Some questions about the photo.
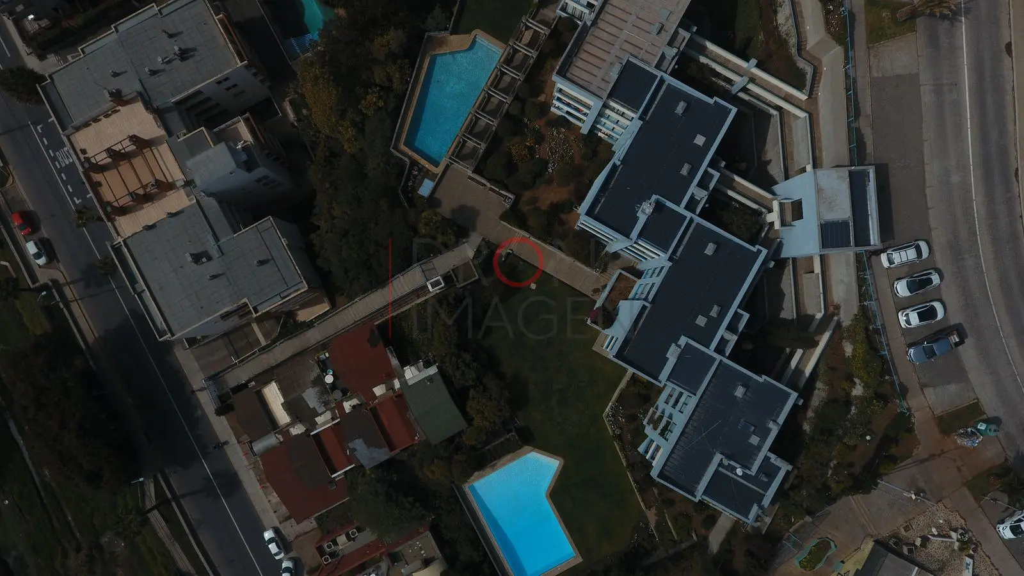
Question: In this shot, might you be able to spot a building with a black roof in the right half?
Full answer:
Yes, the scene does show a building with a black roof in the right half.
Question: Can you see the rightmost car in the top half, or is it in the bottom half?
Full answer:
It is in the bottom half that the rightmost car appears.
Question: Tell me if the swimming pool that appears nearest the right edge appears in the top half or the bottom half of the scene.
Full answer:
The swimming pool that appears nearest the right edge sits in the bottom half of the picture.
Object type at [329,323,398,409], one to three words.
house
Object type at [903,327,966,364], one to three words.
truck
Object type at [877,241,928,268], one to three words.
car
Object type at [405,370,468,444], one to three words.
building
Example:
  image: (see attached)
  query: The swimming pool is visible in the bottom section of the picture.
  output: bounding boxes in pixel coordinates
[463,446,582,576]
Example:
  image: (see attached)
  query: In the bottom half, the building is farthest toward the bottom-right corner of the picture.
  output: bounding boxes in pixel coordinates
[851,537,926,576]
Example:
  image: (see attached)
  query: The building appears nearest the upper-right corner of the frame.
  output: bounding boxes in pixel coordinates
[771,162,882,258]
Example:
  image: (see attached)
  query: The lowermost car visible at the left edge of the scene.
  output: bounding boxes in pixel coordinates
[24,237,51,266]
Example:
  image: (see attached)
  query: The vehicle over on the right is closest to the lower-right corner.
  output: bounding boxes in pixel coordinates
[995,504,1024,538]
